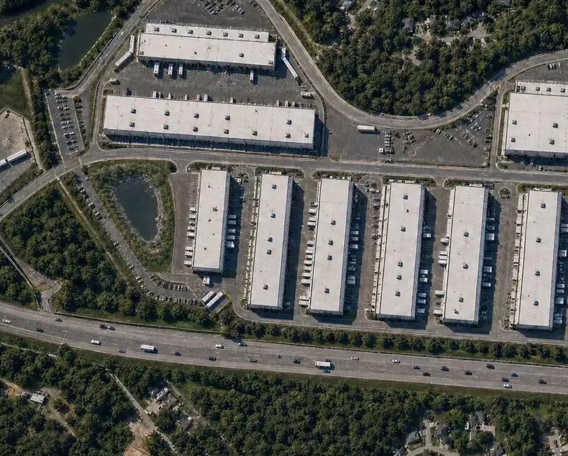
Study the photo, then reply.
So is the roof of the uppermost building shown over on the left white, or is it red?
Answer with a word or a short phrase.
white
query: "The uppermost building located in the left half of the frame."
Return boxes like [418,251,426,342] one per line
[136,24,280,71]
